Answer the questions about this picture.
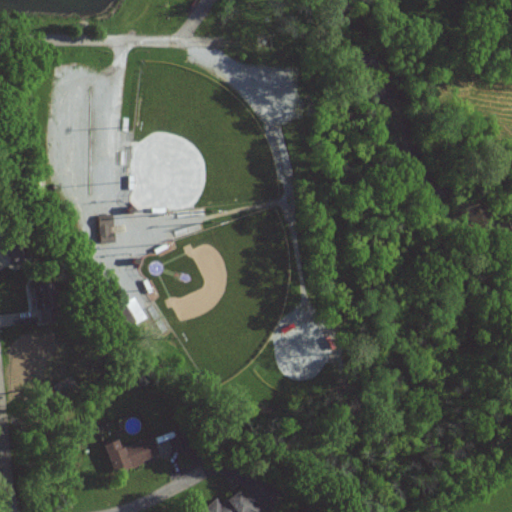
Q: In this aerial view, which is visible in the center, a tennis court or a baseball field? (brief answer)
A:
baseball field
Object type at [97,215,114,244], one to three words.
building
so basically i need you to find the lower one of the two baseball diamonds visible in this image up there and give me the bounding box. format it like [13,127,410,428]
[138,205,290,384]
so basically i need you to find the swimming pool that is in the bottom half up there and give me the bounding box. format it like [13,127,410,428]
[124,418,141,434]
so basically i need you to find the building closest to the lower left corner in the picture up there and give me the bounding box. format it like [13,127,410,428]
[106,440,152,471]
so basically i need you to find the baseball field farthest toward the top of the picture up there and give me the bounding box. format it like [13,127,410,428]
[130,60,284,210]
